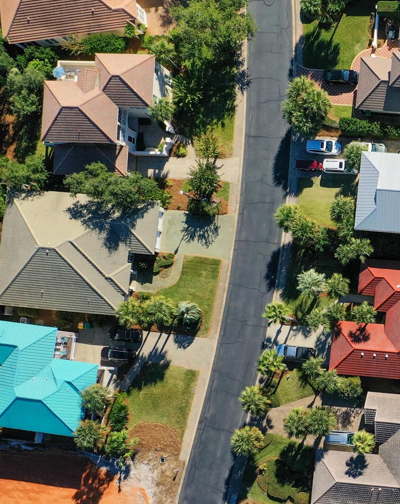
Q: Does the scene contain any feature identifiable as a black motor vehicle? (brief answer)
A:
Yes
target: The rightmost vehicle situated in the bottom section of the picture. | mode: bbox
[324,430,357,447]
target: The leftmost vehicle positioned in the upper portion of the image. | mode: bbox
[293,156,323,173]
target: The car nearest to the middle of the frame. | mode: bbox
[110,326,147,342]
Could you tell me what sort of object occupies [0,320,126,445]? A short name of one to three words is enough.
house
